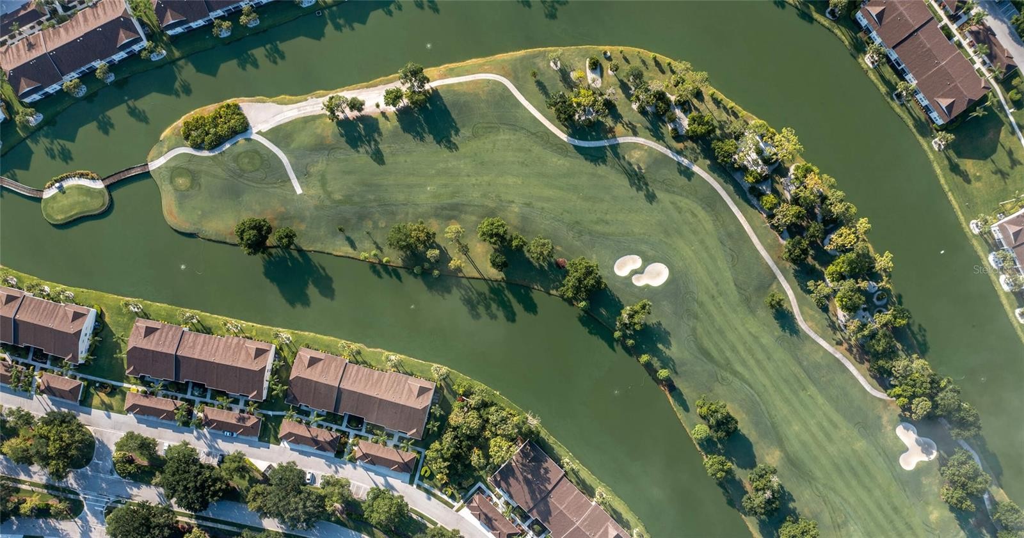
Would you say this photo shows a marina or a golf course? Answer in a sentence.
The area seen from above is a golf course.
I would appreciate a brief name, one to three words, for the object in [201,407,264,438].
building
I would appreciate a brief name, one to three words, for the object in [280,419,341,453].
building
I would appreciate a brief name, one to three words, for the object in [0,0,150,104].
house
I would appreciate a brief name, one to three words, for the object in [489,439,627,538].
house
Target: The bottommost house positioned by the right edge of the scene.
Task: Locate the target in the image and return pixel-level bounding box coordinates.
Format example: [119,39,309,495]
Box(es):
[988,204,1024,280]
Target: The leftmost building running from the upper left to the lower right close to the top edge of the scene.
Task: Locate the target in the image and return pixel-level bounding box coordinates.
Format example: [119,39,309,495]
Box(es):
[843,0,991,126]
